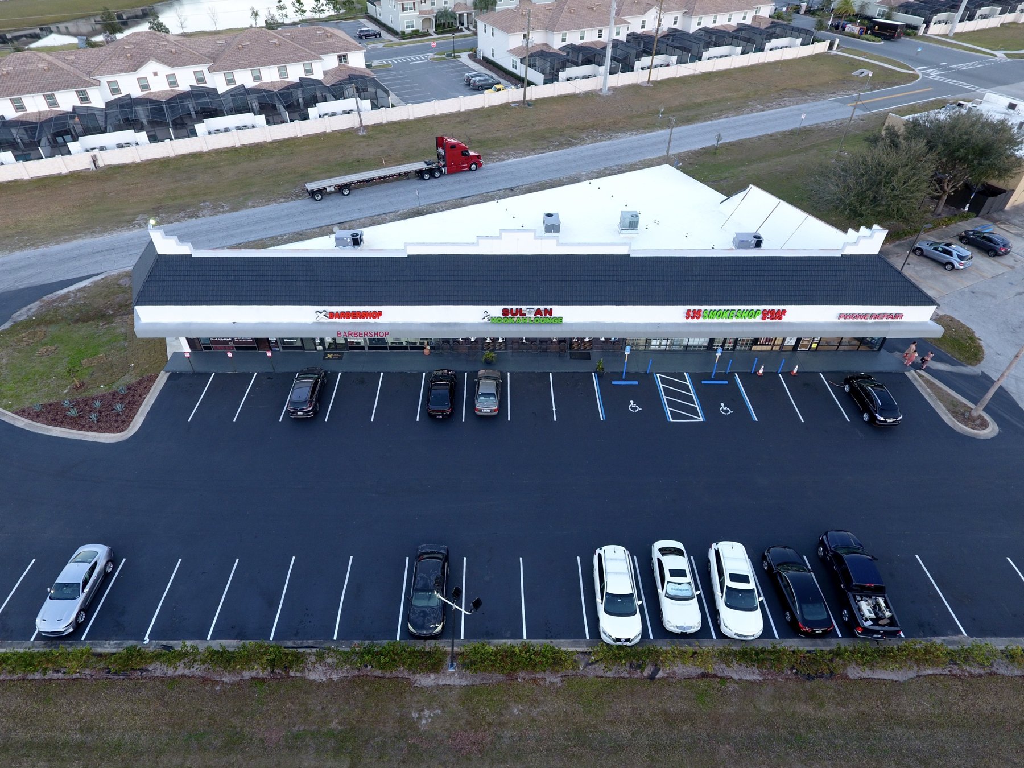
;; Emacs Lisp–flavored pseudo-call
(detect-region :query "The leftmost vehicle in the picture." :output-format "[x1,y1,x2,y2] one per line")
[28,544,112,633]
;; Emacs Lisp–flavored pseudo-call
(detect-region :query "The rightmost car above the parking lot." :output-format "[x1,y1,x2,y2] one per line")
[958,227,1021,258]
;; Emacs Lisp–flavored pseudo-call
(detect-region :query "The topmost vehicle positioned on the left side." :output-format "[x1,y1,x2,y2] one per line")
[355,25,383,39]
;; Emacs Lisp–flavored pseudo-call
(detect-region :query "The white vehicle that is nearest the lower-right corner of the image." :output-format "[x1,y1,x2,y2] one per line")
[709,543,769,636]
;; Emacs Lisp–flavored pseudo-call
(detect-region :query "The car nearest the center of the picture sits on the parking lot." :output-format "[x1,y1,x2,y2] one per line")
[471,366,505,415]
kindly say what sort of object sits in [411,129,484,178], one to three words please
truck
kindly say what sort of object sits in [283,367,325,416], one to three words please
car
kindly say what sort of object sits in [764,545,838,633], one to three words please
car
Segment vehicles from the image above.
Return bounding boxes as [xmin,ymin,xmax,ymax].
[355,25,383,39]
[593,547,647,643]
[709,543,769,636]
[913,238,975,270]
[861,13,910,38]
[958,227,1021,258]
[400,544,450,635]
[28,544,112,633]
[652,544,707,633]
[283,367,325,416]
[411,129,484,178]
[819,531,913,642]
[468,71,501,89]
[764,545,838,633]
[471,366,505,415]
[847,374,906,427]
[422,366,457,416]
